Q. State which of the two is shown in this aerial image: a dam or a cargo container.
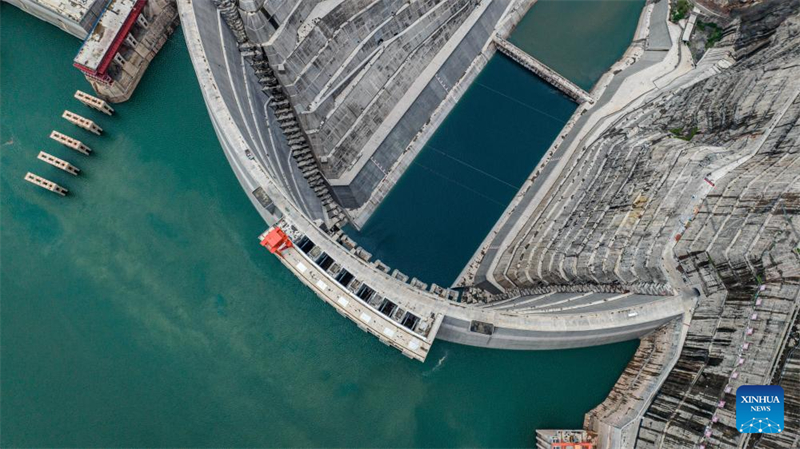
dam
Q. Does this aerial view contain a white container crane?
No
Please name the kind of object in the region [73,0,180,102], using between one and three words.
building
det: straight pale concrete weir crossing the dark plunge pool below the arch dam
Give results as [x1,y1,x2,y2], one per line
[493,36,593,108]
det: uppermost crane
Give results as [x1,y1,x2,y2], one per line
[260,230,292,261]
